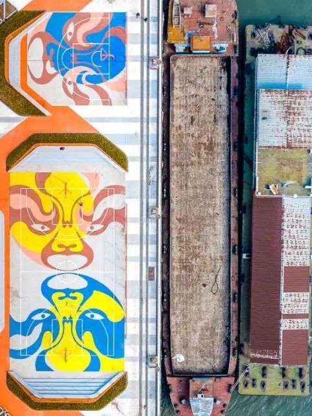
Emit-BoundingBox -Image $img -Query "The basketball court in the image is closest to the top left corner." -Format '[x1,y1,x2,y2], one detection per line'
[28,11,126,106]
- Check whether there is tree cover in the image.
No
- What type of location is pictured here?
sports ground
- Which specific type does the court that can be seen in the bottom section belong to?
basketball court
